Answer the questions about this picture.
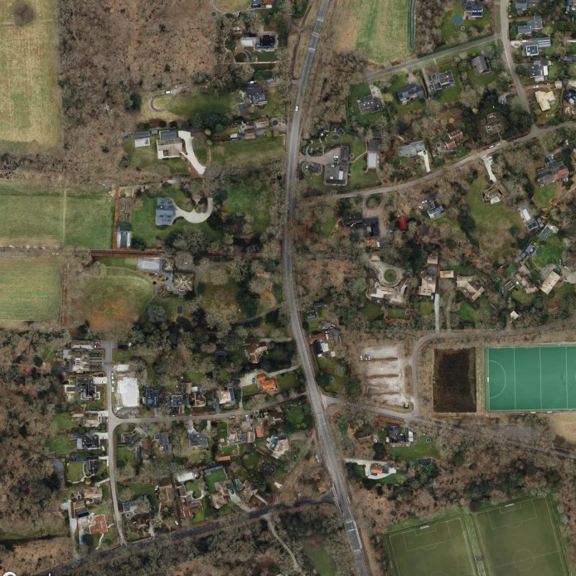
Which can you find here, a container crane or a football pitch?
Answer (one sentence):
Looking from above, you can make out a football pitch.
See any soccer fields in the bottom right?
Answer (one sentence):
Yes, looking in the bottom right, one can make out a soccer field.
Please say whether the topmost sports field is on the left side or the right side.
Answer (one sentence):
The topmost sports field appears in the right half of the scene.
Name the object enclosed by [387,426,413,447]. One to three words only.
house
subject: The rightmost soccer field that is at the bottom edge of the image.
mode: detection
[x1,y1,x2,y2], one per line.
[466,484,571,576]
